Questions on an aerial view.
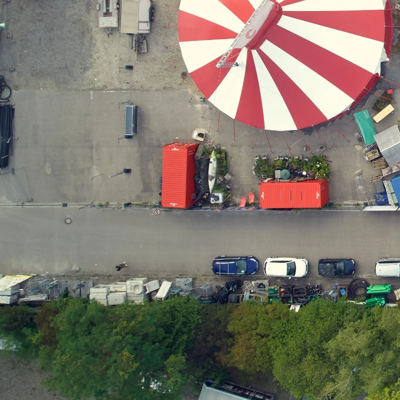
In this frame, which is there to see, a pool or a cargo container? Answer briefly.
cargo container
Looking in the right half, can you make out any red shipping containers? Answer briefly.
Yes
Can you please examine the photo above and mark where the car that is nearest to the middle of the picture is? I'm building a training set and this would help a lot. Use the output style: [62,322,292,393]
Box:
[213,255,260,278]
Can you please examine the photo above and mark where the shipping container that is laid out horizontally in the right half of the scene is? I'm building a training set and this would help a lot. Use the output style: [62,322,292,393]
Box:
[259,179,327,208]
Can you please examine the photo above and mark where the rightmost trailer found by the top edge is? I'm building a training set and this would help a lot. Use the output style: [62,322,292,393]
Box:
[122,0,162,43]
